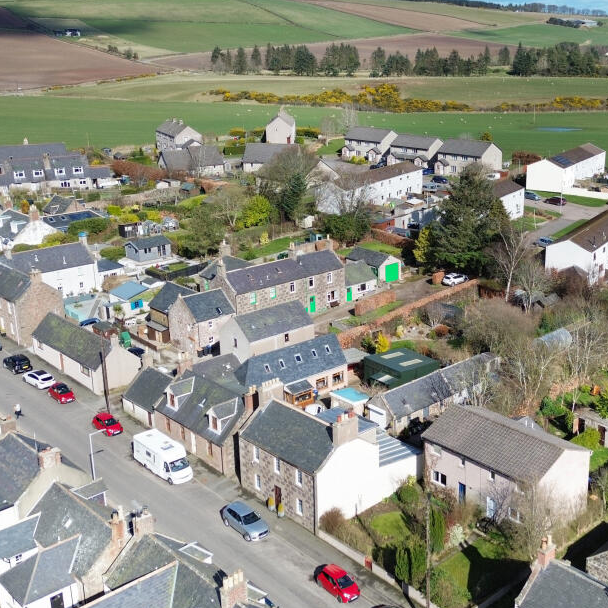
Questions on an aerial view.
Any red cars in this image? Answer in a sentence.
Yes, you can see a red car in this photo.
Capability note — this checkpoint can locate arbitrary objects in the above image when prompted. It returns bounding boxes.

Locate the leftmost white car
[26,370,52,389]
